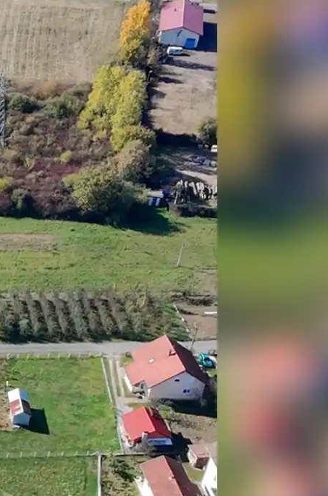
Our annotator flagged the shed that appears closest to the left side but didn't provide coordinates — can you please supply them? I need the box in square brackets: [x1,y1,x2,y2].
[5,391,32,426]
